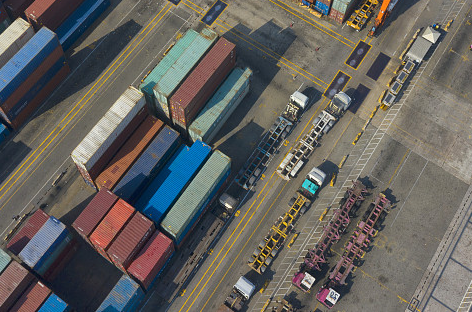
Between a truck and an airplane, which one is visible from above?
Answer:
truck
